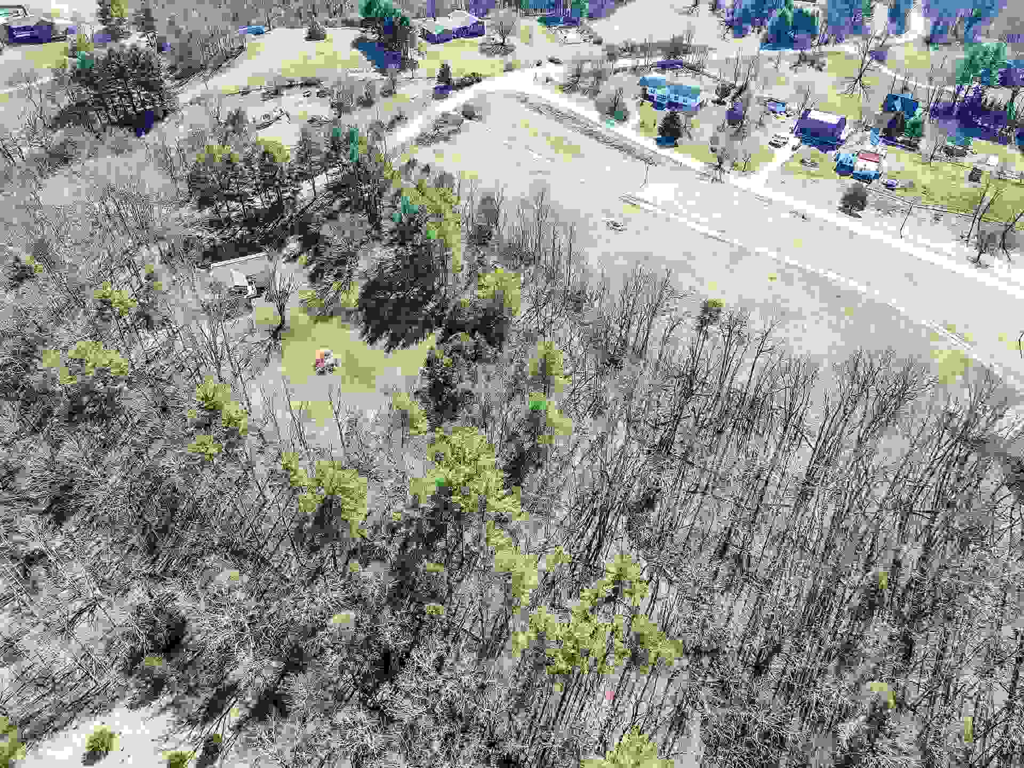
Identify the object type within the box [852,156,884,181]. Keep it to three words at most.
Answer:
shed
